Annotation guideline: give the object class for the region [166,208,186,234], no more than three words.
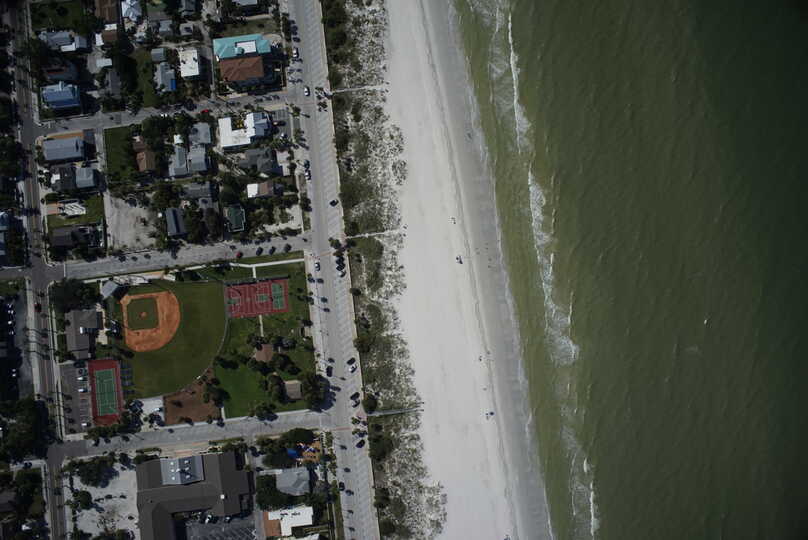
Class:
house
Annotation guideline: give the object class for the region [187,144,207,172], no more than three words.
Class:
house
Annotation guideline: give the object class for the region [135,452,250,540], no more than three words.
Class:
building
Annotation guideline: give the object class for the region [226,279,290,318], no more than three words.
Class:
basketball court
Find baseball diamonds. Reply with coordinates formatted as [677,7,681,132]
[119,282,227,399]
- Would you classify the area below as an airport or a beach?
beach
